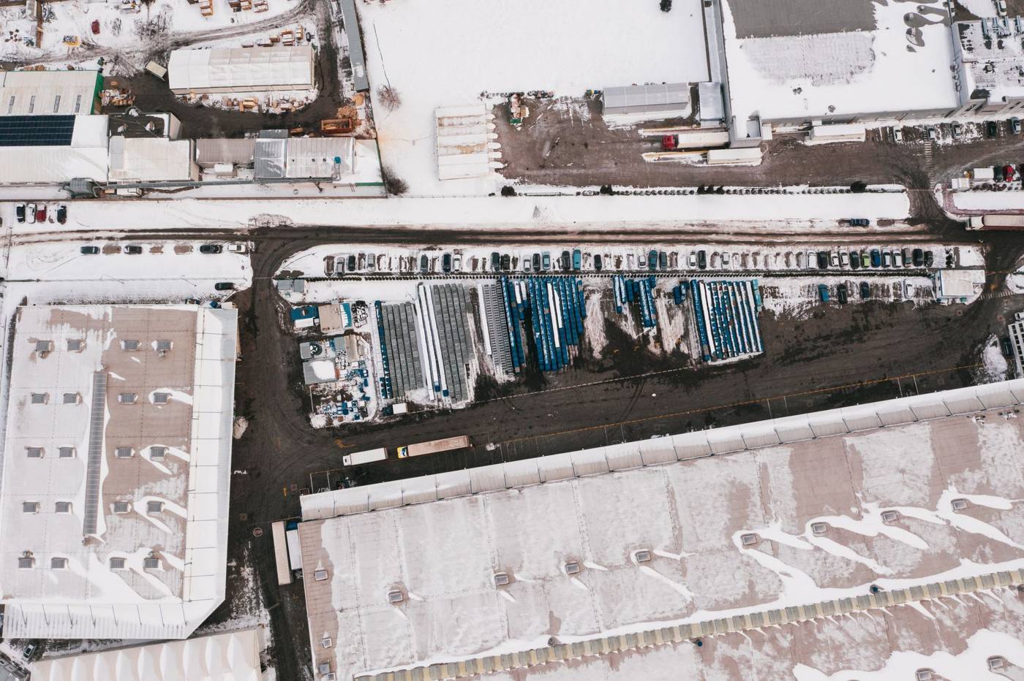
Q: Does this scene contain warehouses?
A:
Yes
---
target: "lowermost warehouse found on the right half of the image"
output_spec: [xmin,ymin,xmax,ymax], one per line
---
[299,380,1024,681]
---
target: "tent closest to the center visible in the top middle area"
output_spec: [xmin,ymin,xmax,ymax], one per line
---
[436,102,491,183]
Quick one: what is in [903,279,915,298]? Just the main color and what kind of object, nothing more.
white vehicle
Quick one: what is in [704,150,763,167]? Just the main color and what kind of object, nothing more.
white trailer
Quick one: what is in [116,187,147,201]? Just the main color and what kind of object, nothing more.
white vehicle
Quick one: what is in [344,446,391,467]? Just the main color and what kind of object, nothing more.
white truck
